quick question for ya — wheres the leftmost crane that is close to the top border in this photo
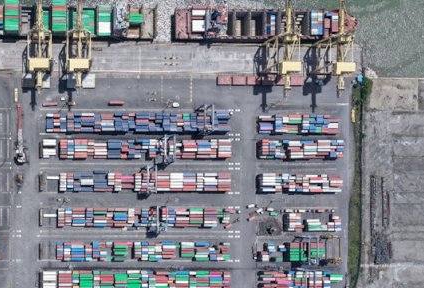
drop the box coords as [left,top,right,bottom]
[26,0,56,93]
